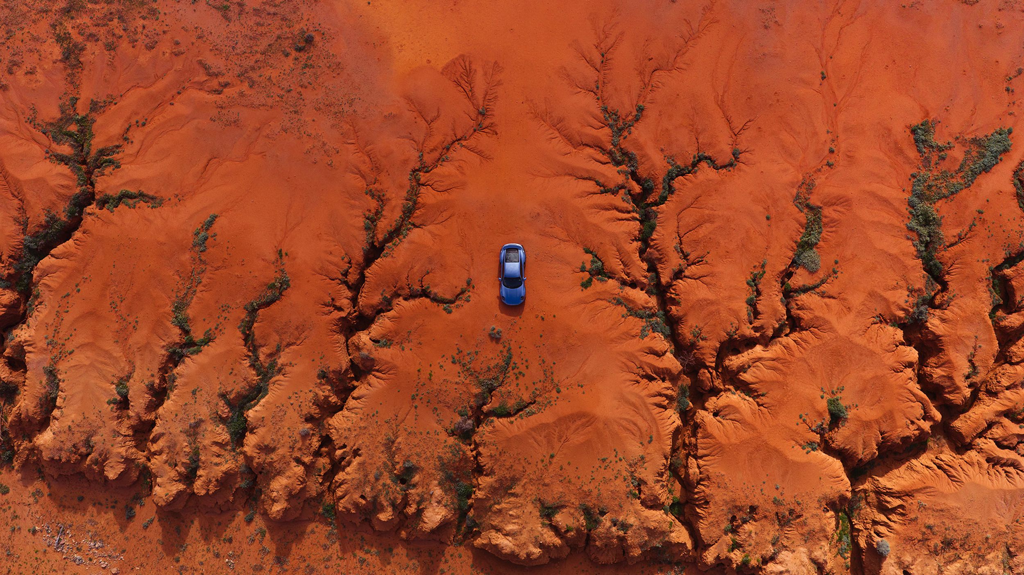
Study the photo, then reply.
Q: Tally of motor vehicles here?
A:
1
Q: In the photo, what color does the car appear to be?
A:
blue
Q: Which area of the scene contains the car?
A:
center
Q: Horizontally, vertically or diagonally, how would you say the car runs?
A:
vertically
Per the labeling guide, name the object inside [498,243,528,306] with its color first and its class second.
blue car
